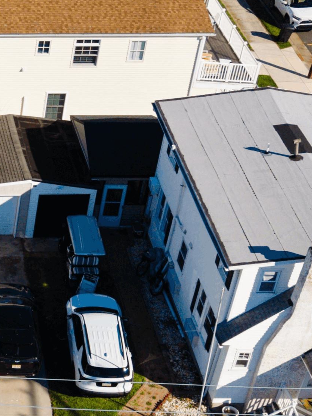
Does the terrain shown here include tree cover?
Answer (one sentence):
No, no tree cover is visible.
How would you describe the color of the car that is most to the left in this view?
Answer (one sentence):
From above, the car that is most to the left appears black.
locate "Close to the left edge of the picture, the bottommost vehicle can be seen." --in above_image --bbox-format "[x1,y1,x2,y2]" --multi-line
[0,278,46,376]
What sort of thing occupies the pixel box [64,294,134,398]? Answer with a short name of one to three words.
car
